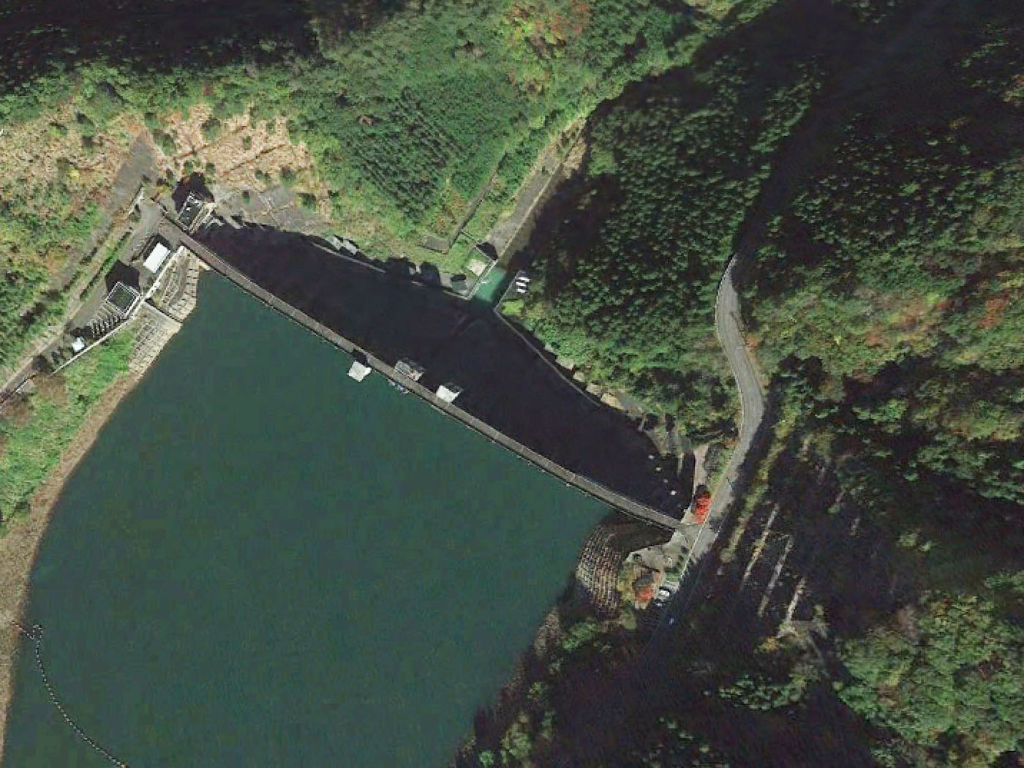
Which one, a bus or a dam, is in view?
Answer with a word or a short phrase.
dam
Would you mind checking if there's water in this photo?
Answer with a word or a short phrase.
Yes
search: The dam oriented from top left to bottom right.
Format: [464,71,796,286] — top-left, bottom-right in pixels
[160,215,683,535]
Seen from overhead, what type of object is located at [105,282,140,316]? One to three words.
building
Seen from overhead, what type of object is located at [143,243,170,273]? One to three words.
building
